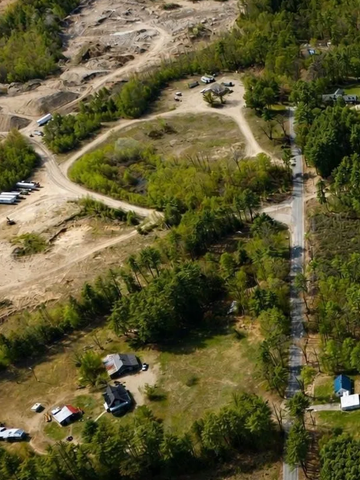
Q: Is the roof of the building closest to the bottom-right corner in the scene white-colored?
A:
Yes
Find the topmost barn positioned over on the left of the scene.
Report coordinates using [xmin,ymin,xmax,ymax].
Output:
[105,352,141,382]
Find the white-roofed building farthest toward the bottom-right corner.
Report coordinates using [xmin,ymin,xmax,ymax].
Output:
[340,390,360,411]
